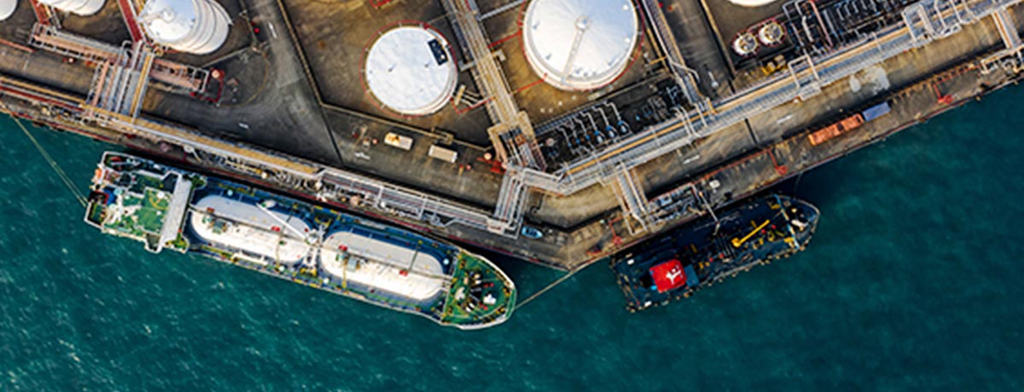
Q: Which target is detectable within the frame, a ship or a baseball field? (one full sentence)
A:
The image shows a ship.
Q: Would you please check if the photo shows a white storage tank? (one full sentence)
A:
Yes, the photo shows a white storage tank.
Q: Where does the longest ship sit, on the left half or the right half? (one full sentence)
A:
The longest ship is on the left side of the image.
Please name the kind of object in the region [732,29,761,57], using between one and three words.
storage tank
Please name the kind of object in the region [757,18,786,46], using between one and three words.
storage tank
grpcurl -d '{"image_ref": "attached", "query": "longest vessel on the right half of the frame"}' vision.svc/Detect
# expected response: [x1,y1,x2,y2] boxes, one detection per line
[610,194,820,312]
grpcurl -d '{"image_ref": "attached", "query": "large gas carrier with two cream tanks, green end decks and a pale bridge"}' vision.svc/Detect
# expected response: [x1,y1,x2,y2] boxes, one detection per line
[82,152,515,330]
